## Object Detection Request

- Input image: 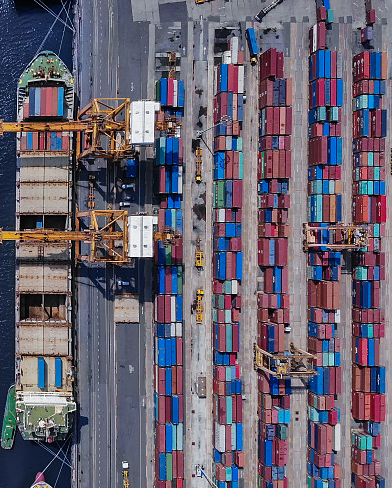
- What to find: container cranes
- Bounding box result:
[305,223,372,251]
[0,205,182,264]
[0,98,182,169]
[257,344,321,377]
